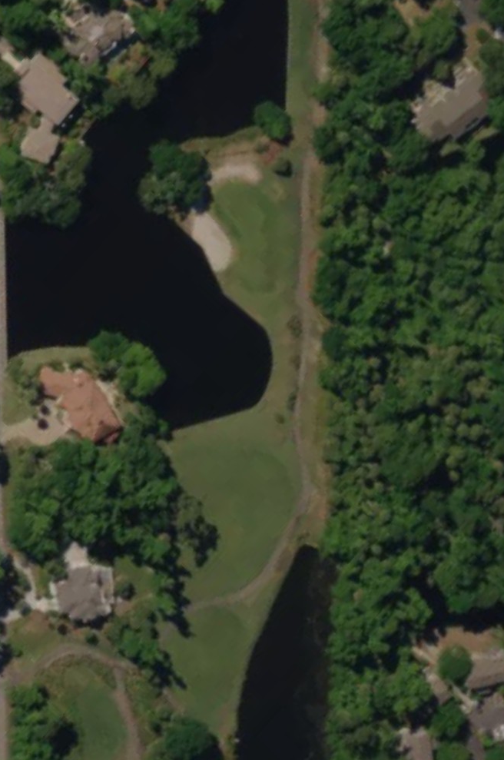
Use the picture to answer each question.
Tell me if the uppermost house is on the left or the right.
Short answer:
left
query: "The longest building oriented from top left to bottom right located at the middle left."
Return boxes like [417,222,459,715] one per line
[40,367,130,444]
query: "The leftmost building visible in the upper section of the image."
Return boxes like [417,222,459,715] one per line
[14,55,83,164]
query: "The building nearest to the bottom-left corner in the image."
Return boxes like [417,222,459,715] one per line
[58,567,107,621]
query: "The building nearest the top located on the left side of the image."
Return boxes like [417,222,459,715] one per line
[67,7,134,66]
